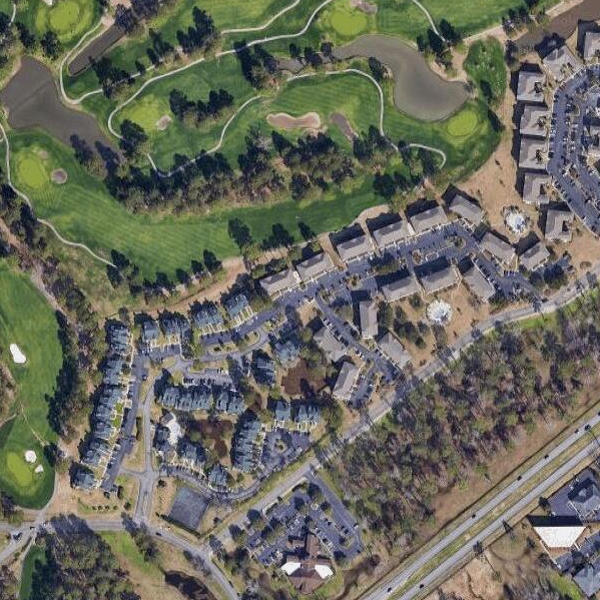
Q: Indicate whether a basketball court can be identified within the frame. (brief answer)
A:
No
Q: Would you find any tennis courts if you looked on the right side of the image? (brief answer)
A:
No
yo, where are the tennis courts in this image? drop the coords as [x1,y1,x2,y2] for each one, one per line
[168,486,211,530]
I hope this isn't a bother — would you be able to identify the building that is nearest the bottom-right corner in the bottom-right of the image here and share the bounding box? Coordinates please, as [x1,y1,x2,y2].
[570,564,600,598]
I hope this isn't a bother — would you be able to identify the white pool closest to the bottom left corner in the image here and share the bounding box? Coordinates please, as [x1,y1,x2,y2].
[166,415,182,445]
